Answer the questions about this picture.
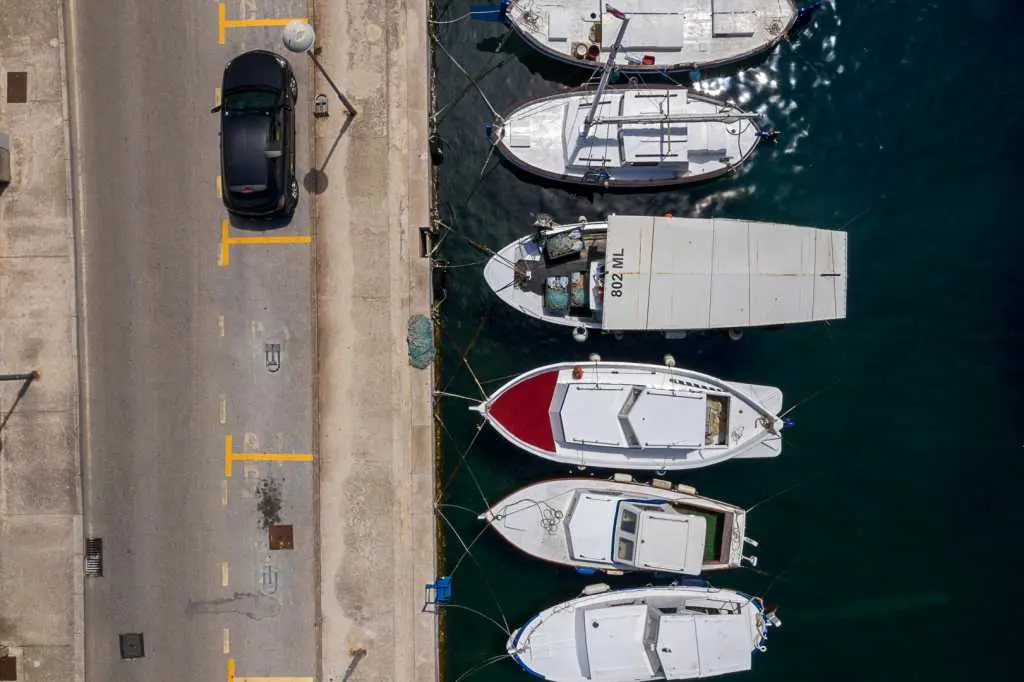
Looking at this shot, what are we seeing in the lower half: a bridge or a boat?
boat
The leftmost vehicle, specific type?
car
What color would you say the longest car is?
black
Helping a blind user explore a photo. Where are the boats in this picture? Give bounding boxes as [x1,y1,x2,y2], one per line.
[477,477,757,575]
[505,583,781,682]
[483,216,847,330]
[488,2,780,188]
[472,0,819,77]
[469,358,797,471]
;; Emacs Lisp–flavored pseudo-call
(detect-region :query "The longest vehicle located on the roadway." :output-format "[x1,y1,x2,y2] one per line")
[209,48,300,219]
